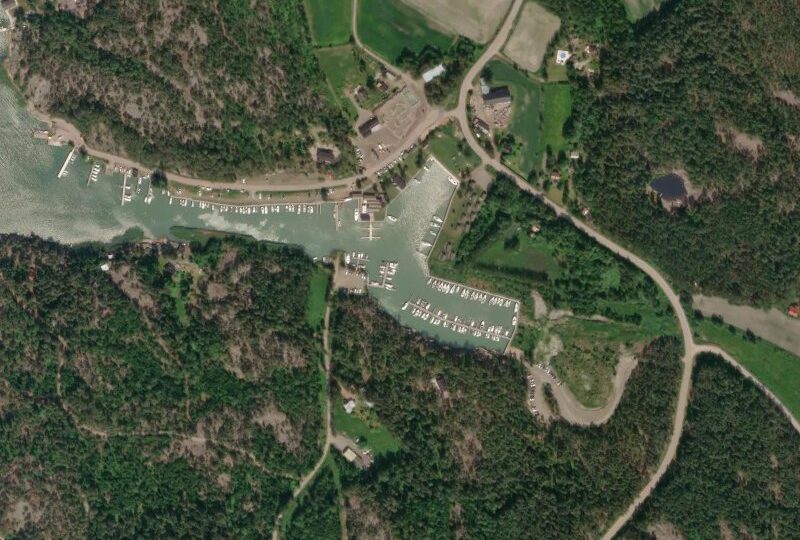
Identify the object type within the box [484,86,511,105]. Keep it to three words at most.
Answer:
barn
